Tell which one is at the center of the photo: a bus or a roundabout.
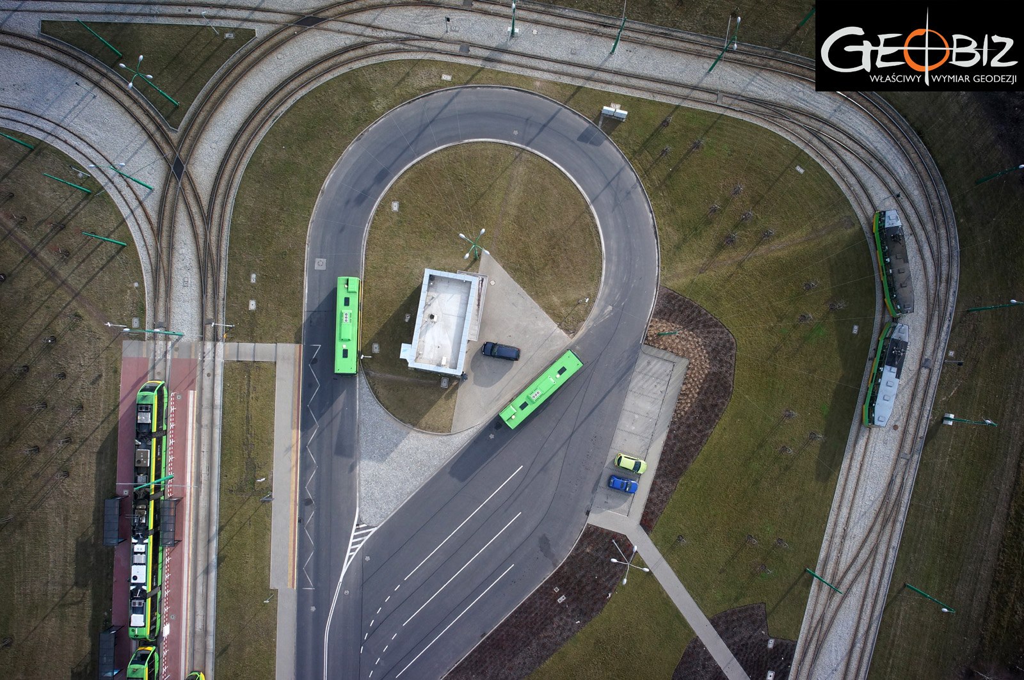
bus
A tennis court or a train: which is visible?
train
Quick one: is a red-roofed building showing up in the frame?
No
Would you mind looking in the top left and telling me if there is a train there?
No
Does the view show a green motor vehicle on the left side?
Yes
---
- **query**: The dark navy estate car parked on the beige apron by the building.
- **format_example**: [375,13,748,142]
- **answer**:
[482,340,521,360]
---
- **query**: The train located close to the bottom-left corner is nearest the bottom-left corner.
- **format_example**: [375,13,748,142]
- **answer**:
[128,645,159,680]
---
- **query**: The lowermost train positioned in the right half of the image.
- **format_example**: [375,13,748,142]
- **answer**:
[861,321,911,429]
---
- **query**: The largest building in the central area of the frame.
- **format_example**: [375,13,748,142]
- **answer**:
[401,269,490,375]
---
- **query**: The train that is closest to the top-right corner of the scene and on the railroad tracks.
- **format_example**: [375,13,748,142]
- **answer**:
[871,209,910,319]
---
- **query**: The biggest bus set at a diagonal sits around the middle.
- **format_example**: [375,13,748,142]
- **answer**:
[499,346,586,428]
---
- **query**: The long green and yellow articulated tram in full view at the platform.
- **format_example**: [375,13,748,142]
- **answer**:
[128,382,167,648]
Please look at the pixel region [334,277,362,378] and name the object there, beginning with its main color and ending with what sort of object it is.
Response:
green bus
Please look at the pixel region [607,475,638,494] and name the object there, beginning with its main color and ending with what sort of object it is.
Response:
blue car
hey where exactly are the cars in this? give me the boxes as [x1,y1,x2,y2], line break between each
[613,453,647,474]
[482,340,521,360]
[607,475,638,494]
